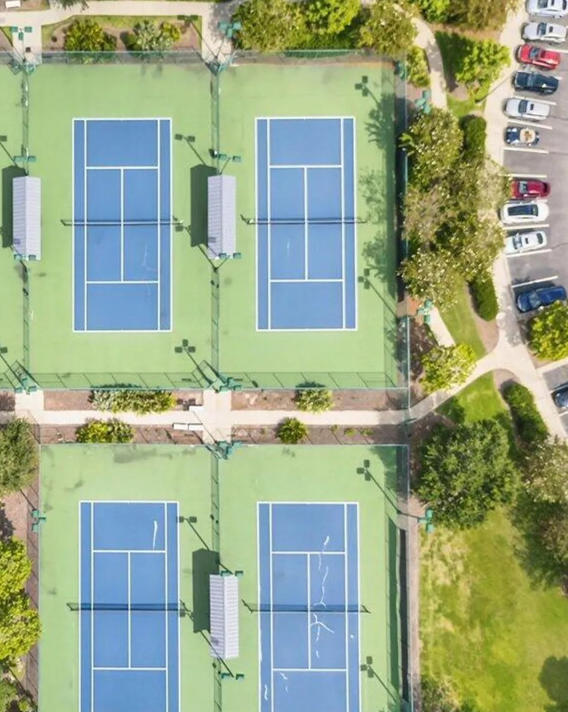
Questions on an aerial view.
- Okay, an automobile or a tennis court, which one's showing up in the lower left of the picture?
tennis court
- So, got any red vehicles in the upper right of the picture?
Yes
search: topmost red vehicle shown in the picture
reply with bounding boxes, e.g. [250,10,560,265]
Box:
[515,45,562,70]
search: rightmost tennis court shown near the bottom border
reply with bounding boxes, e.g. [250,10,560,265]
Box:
[216,447,400,712]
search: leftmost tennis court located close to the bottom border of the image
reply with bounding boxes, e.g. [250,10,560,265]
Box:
[39,447,217,712]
